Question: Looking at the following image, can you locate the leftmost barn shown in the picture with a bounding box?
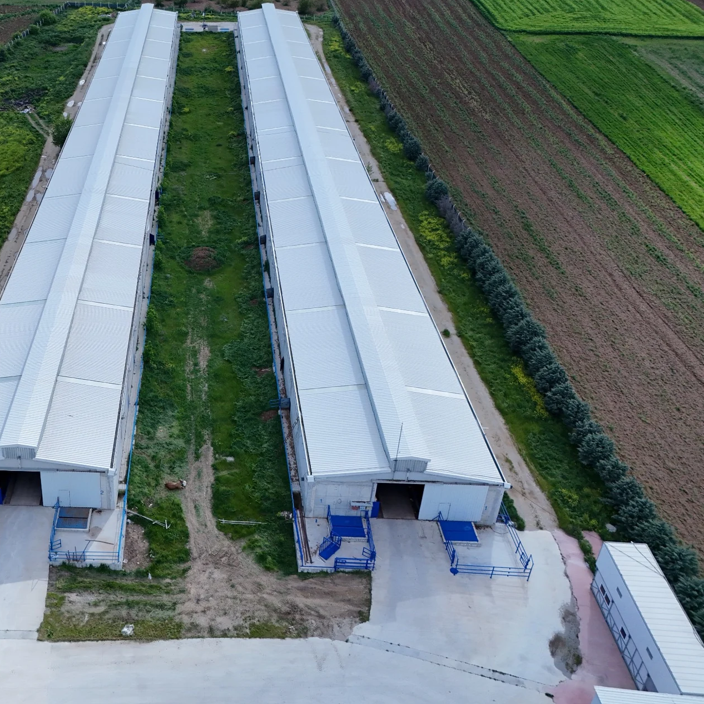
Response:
[0,3,178,512]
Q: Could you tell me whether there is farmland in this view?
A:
Yes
